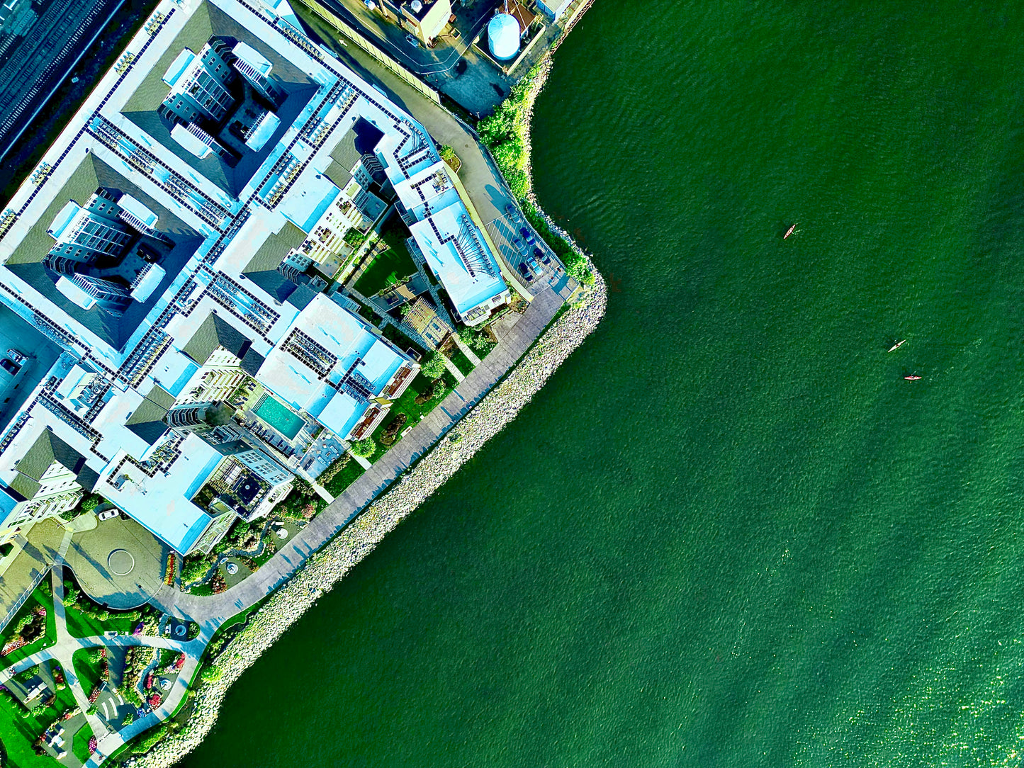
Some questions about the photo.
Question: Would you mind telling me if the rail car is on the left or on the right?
left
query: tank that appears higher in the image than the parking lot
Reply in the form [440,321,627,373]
[487,12,520,60]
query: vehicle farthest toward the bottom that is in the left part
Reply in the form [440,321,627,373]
[96,509,118,521]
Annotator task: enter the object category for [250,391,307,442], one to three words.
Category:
swimming pool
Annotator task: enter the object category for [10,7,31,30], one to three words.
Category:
rail car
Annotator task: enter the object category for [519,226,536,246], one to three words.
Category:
car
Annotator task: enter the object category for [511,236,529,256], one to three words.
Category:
car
